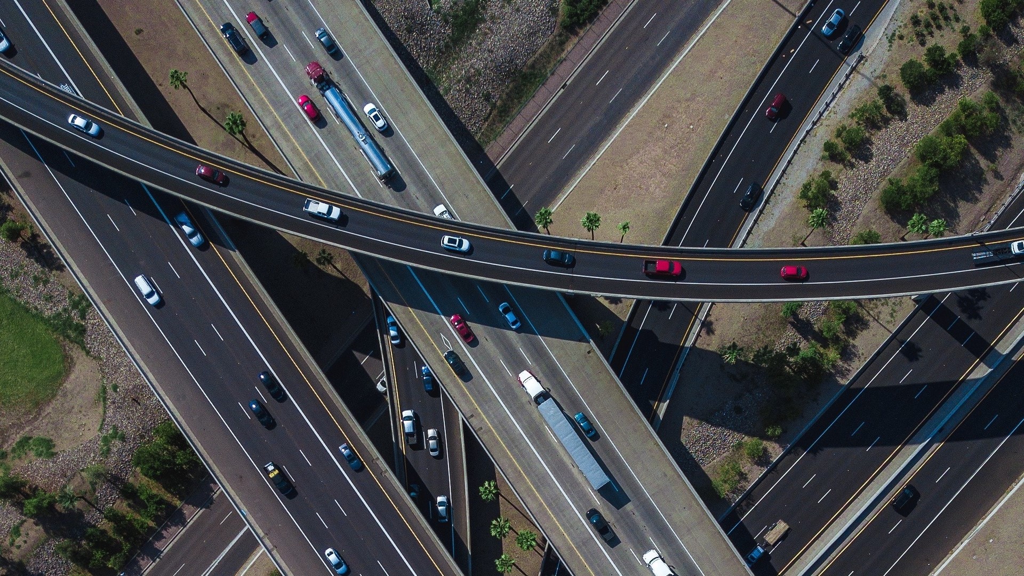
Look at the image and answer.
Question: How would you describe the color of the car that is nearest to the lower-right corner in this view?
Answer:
black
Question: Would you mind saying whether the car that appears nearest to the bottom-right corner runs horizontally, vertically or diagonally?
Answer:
diagonally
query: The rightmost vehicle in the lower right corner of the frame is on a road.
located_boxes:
[891,487,915,512]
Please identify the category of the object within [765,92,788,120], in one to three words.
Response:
car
